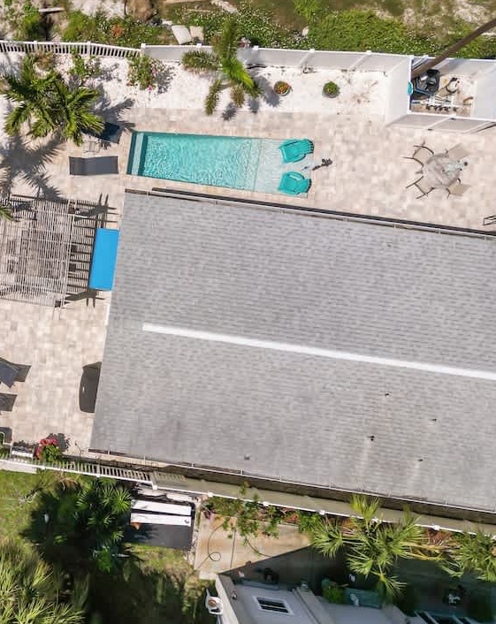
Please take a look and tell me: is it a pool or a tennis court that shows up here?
pool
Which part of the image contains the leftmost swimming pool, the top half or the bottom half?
top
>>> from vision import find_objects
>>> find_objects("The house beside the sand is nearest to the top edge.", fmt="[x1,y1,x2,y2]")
[89,187,496,515]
